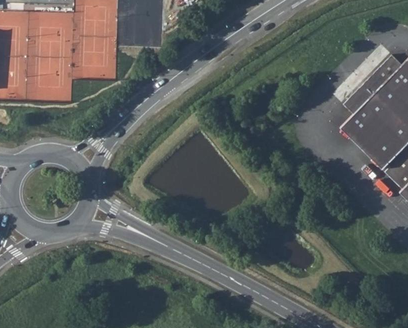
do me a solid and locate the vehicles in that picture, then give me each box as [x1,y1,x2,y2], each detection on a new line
[114,130,124,138]
[2,216,8,227]
[31,160,42,168]
[264,23,276,31]
[361,165,378,182]
[375,179,392,197]
[58,221,70,226]
[74,144,85,152]
[249,23,261,32]
[25,240,36,249]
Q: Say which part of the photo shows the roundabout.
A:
left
